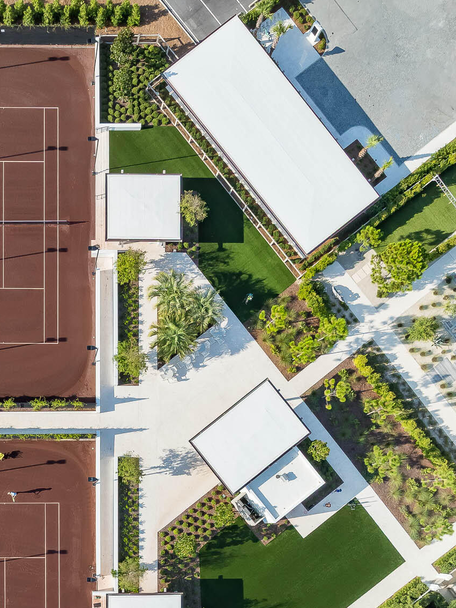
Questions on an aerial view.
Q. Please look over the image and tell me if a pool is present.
No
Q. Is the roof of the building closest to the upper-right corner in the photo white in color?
Yes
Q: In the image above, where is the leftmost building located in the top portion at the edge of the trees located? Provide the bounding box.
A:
[106,171,182,251]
